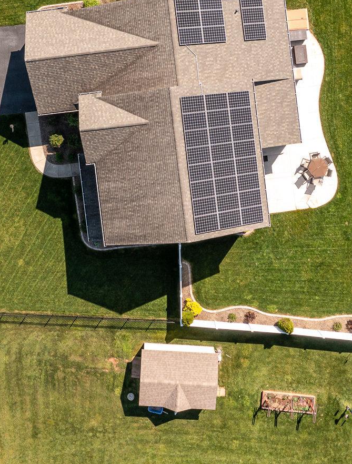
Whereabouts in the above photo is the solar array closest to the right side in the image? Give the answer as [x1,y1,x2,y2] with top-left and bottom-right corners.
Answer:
[241,0,266,40]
